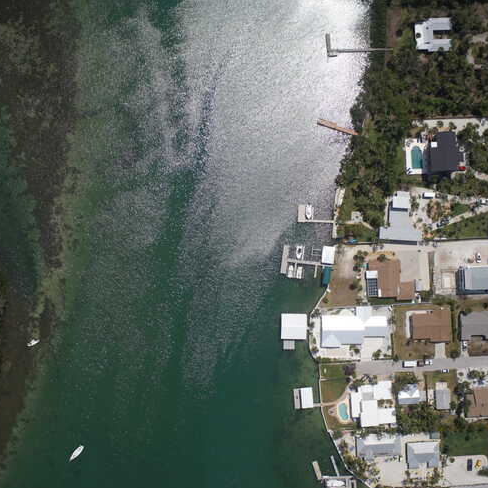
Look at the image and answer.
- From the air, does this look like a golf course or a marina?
marina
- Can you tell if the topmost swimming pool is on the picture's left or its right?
right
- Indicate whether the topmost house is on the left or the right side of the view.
right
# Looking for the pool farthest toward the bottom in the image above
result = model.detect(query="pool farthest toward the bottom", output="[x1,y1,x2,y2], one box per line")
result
[336,397,351,423]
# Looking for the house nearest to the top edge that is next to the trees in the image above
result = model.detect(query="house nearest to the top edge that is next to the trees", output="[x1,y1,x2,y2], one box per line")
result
[413,17,452,54]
